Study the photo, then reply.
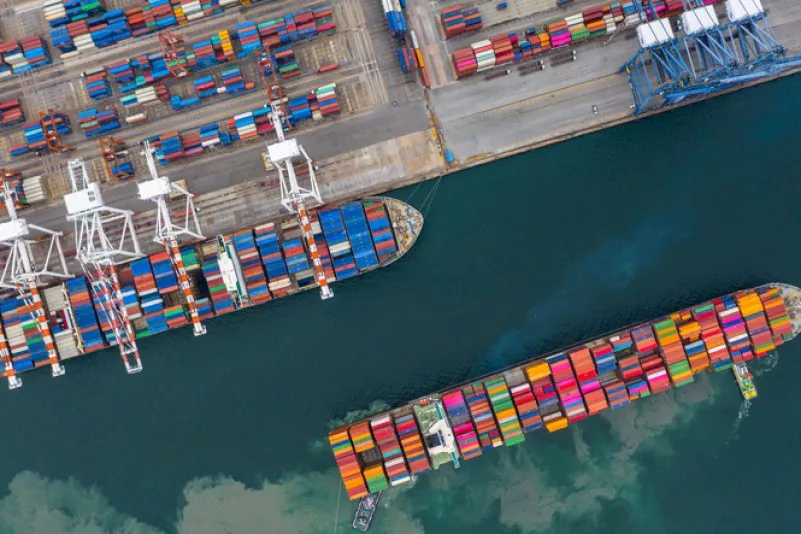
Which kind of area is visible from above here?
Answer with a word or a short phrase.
port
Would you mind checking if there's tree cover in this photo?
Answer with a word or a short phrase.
No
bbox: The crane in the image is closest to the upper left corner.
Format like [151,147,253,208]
[41,109,86,159]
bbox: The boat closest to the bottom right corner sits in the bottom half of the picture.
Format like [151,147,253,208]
[733,363,757,401]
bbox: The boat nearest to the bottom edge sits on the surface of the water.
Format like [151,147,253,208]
[352,490,383,533]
